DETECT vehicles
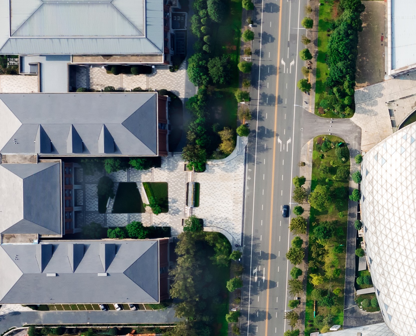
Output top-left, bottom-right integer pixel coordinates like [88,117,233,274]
[128,304,138,314]
[113,304,122,314]
[283,205,289,217]
[98,304,108,314]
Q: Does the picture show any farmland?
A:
No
